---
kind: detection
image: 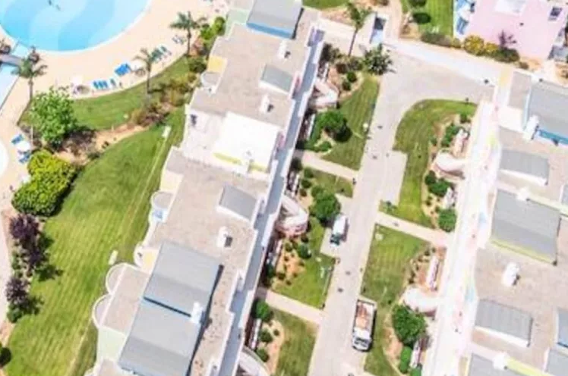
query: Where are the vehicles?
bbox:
[327,207,354,245]
[351,294,381,349]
